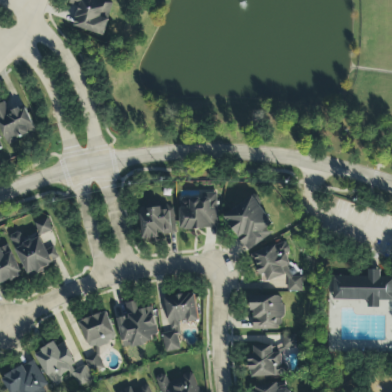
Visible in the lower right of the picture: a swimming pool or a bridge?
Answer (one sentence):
The one visible in the lower right of the picture is a swimming pool.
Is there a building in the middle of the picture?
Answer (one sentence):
Yes, you'll find a building in the middle of the picture.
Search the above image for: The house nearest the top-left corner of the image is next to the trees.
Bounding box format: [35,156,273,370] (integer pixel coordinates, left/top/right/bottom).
[70,0,117,36]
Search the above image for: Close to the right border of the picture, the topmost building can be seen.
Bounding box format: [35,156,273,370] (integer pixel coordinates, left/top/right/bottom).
[330,268,392,306]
